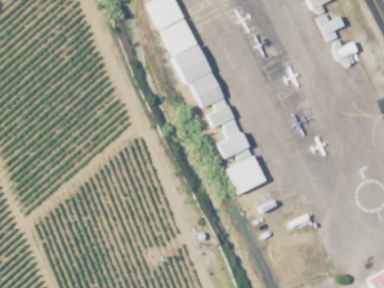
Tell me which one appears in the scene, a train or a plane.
plane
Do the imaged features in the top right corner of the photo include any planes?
Yes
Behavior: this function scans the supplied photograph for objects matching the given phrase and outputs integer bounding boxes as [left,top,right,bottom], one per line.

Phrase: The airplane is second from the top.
[253,36,270,56]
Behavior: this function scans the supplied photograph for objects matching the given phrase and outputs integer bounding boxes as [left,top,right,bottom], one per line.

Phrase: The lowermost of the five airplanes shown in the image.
[310,136,326,156]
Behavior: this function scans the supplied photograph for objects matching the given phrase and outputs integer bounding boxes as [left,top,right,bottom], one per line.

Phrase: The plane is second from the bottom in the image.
[292,114,309,136]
